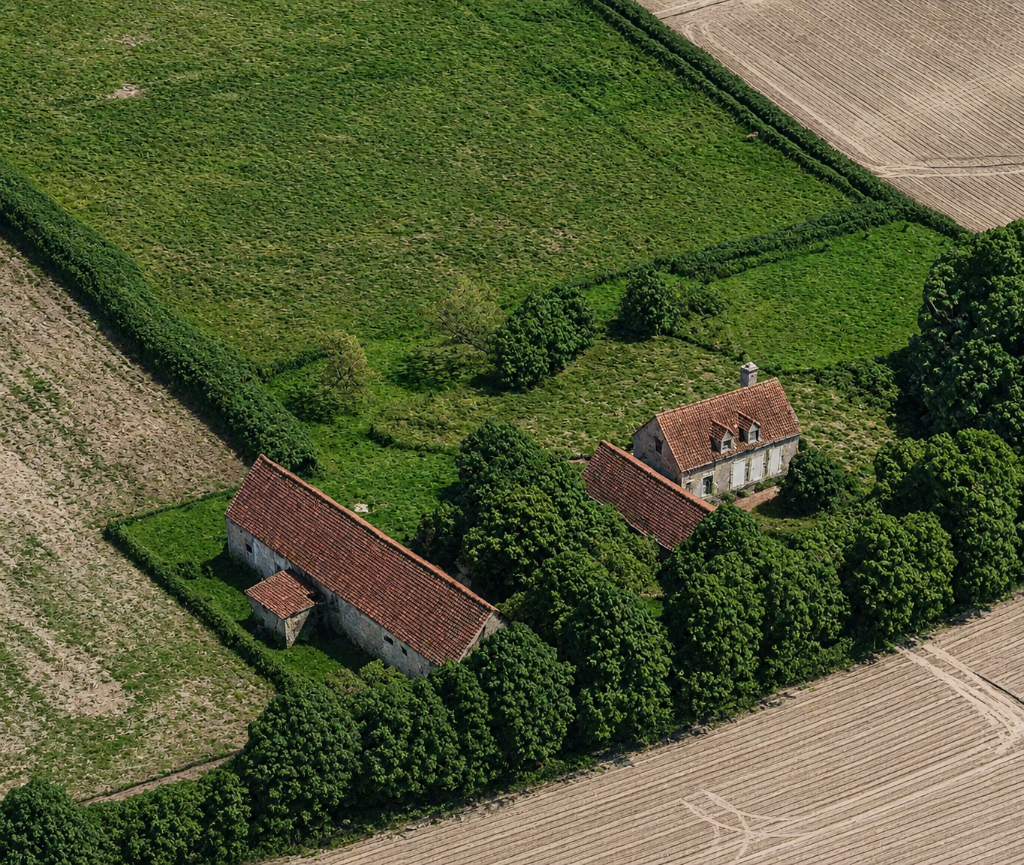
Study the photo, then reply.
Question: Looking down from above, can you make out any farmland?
Yes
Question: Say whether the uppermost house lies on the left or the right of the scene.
right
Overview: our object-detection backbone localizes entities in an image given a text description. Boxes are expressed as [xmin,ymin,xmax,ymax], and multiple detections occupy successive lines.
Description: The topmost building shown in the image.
[628,359,801,506]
